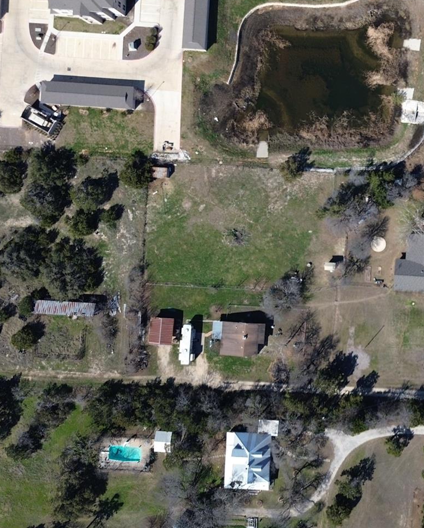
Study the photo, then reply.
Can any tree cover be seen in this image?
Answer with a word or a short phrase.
Yes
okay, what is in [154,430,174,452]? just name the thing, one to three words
shed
